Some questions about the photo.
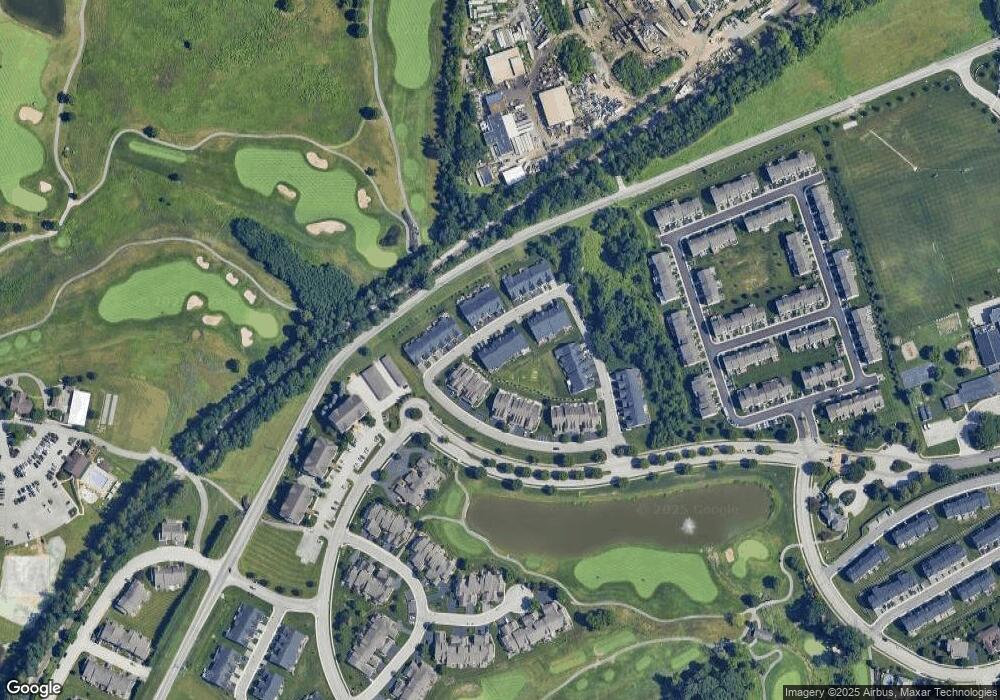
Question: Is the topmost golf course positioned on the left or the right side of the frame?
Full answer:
The topmost golf course sits on the left side.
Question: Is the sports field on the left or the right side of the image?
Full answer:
The sports field appears in the right half of the scene.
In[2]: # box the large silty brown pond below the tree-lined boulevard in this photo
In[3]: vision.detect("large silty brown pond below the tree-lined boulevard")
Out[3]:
[467,482,772,556]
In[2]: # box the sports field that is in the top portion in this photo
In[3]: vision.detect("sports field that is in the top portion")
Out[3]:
[842,90,1000,334]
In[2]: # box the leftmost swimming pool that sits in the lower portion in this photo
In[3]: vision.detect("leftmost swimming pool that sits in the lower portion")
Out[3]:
[90,469,109,487]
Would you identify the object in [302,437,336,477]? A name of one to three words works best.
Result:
building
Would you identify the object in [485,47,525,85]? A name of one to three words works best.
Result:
building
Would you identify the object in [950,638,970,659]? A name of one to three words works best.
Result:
house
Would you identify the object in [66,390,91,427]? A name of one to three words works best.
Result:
barn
